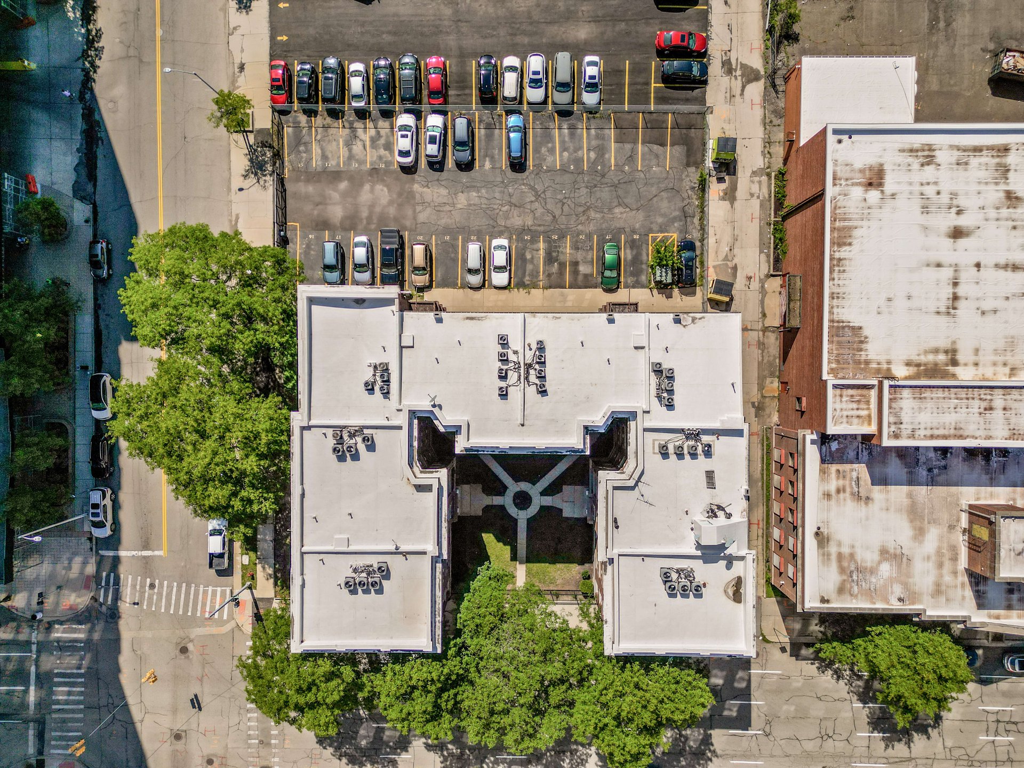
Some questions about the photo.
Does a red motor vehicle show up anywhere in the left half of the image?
Yes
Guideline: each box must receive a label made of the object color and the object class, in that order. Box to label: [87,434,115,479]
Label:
black car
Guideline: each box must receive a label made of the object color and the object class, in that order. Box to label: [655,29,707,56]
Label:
red car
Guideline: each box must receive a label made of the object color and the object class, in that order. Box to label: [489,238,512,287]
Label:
white car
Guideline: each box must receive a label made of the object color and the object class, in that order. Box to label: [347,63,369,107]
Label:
white car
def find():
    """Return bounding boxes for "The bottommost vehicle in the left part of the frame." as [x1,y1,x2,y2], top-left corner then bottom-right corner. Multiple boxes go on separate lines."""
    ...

[204,517,230,570]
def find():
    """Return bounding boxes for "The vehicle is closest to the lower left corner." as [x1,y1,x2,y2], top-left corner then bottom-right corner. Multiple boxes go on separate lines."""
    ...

[87,486,116,538]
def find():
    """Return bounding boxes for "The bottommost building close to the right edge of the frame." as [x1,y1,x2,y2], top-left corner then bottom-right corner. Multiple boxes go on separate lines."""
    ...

[769,426,1024,632]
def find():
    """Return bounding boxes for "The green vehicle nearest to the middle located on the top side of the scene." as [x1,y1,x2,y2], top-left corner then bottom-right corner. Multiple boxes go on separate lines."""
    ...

[599,243,622,290]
